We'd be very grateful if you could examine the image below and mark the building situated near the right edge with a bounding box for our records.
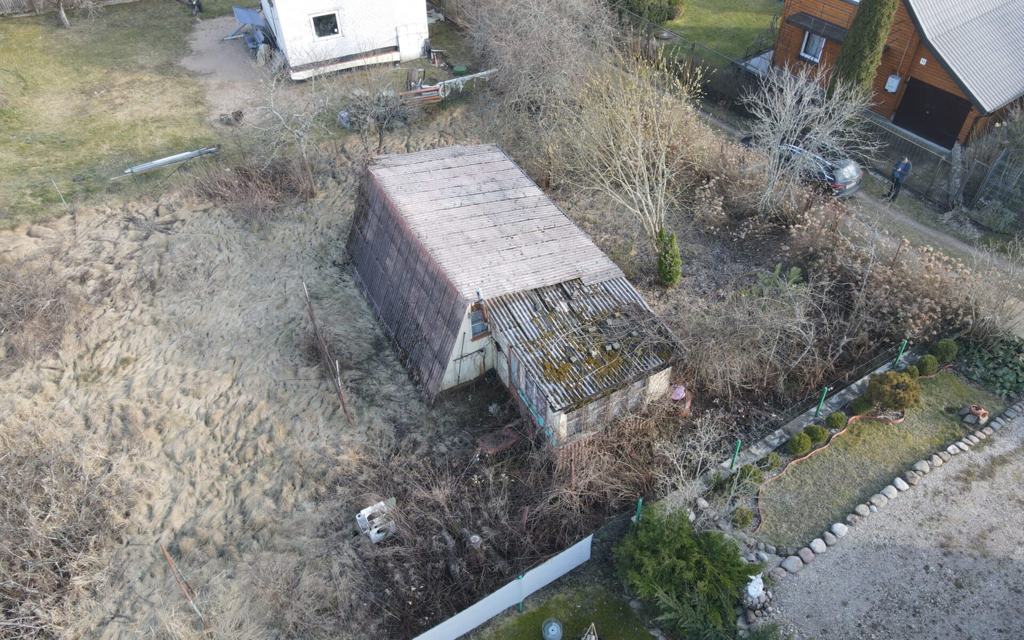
[773,0,1024,149]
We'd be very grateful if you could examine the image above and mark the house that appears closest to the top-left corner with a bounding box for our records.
[255,0,431,80]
